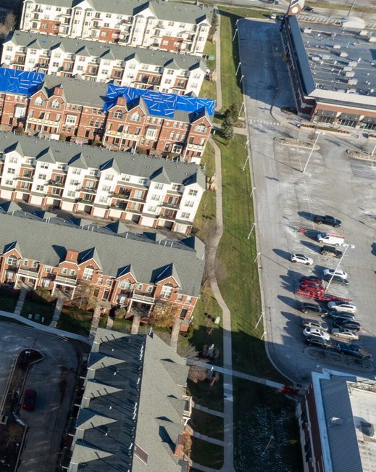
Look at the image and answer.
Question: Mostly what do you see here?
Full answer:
The scene is dominated by buildings.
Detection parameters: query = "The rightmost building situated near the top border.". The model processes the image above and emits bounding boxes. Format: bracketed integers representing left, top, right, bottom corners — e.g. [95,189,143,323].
[281,0,376,130]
